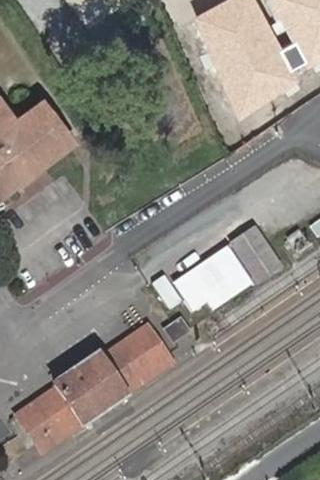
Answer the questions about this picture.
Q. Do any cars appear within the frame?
Yes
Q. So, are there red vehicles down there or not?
No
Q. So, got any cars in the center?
Yes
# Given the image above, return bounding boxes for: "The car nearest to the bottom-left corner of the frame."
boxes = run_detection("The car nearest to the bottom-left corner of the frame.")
[20,270,36,290]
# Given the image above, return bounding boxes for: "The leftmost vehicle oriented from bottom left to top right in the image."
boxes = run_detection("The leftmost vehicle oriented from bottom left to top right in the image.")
[116,218,138,236]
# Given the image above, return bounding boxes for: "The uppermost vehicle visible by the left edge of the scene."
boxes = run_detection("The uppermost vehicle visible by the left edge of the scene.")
[6,208,24,230]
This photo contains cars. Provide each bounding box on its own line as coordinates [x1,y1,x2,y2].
[65,235,84,257]
[6,208,24,230]
[116,218,138,236]
[20,270,36,290]
[162,190,184,208]
[140,203,162,221]
[56,244,74,266]
[74,226,92,248]
[84,216,100,236]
